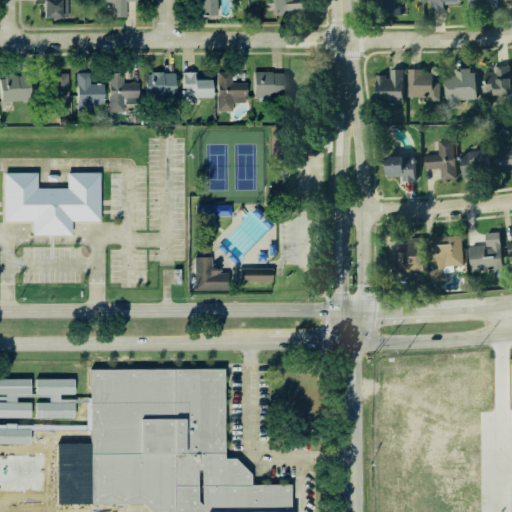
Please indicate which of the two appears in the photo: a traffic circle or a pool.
pool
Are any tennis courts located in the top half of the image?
Yes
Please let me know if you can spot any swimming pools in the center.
Yes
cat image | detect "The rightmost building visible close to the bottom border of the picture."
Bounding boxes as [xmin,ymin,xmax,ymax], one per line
[91,368,294,512]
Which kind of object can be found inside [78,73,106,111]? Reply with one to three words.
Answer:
house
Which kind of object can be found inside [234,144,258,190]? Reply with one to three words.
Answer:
tennis court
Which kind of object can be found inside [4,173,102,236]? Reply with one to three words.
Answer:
building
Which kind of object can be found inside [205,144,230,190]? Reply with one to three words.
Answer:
tennis court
